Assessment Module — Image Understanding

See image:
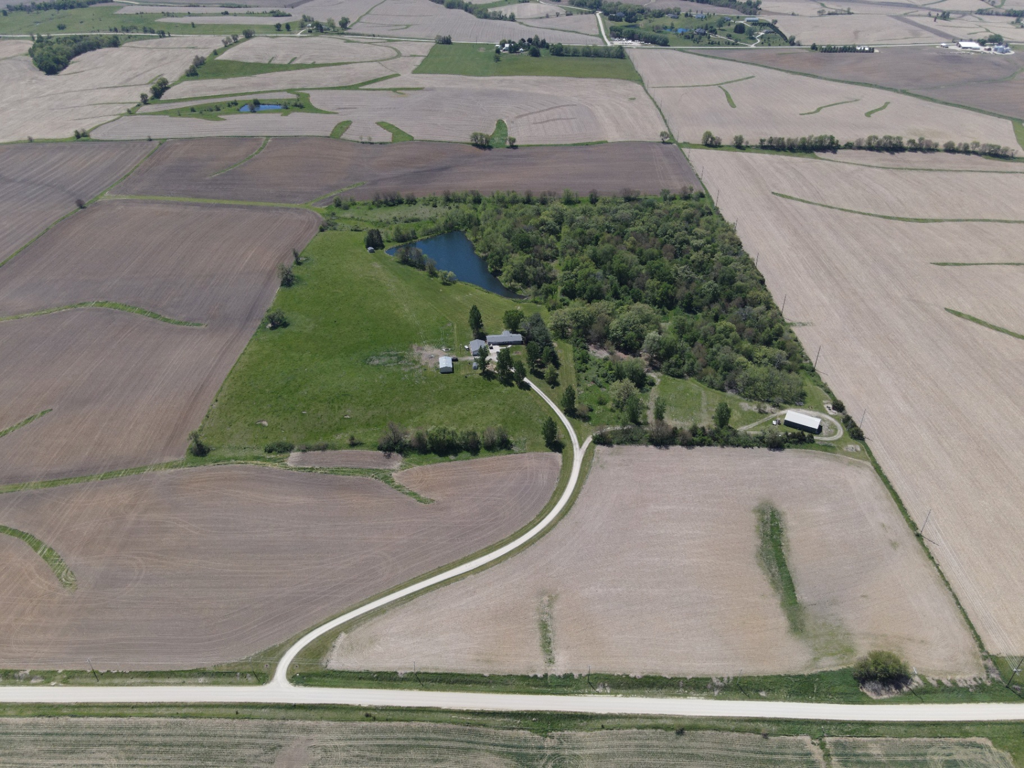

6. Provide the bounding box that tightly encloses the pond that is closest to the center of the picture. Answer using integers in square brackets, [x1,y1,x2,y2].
[386,231,527,299]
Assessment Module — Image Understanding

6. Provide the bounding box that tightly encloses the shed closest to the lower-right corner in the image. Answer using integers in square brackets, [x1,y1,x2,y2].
[784,409,823,434]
